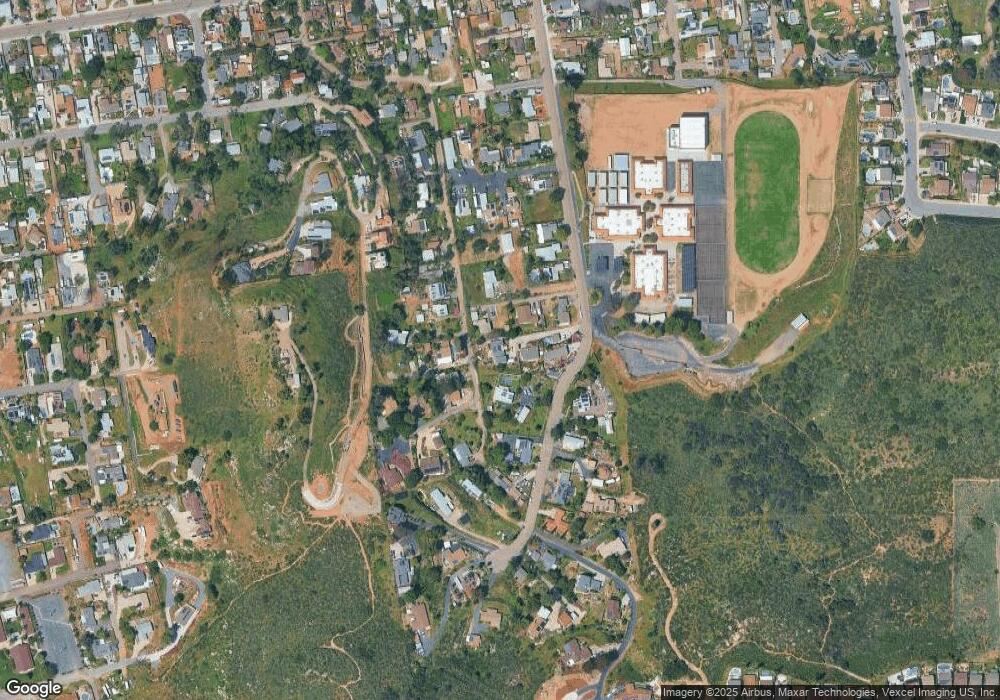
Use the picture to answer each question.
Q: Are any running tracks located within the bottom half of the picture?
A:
No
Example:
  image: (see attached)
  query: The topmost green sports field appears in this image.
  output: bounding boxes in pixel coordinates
[729,105,806,279]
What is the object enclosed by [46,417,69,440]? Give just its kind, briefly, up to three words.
house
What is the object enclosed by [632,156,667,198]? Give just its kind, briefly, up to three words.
building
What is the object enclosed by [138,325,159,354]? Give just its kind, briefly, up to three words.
house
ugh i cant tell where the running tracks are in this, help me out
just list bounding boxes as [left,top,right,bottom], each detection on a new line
[729,105,806,279]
